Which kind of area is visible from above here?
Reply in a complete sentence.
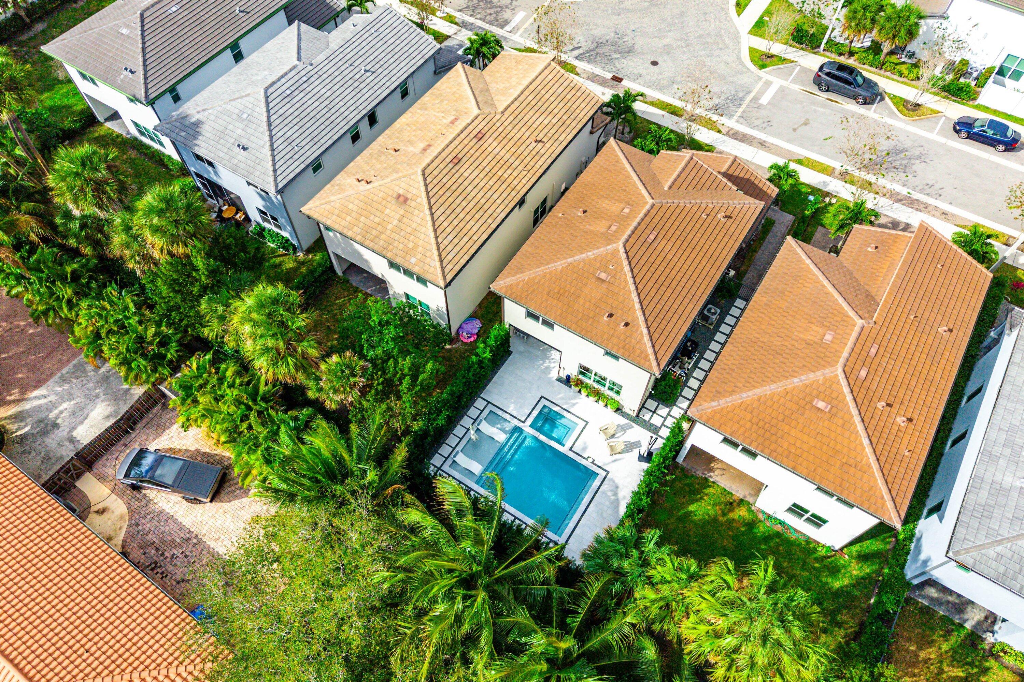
The picture captures a residential area.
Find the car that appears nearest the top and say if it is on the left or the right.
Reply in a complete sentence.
You can find the car that appears nearest the top on the right side of the picture.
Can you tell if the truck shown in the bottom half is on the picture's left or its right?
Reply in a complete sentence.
It is on the left.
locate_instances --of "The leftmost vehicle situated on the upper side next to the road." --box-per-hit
[814,61,883,105]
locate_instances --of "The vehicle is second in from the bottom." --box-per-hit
[953,114,1024,151]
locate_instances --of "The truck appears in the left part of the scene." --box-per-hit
[112,446,223,505]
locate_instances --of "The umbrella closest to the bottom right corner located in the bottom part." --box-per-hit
[635,432,656,468]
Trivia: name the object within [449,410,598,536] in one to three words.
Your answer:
swimming pool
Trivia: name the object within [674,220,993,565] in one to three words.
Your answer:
house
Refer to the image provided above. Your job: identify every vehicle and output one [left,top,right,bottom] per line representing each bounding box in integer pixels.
[953,114,1024,151]
[814,61,883,105]
[112,446,223,505]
